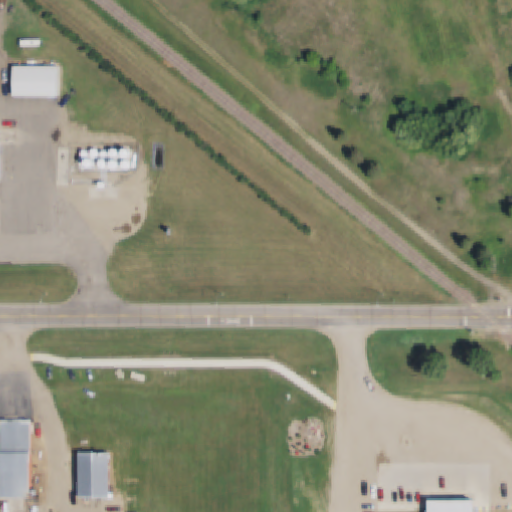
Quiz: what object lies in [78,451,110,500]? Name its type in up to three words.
shed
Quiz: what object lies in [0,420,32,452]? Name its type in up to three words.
building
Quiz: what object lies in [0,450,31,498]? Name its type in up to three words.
building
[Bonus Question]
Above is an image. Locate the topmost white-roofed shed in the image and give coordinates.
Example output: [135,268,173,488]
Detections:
[10,65,62,98]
